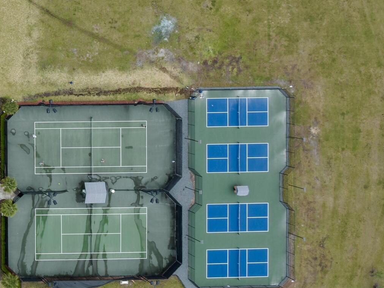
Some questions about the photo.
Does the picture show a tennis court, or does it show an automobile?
tennis court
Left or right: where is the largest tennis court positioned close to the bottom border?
left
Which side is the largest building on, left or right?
left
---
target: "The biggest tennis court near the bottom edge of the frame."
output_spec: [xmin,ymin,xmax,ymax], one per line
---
[11,192,176,278]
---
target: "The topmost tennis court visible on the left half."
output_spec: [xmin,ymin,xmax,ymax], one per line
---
[11,105,176,193]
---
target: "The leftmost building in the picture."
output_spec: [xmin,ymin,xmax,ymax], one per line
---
[81,181,107,204]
